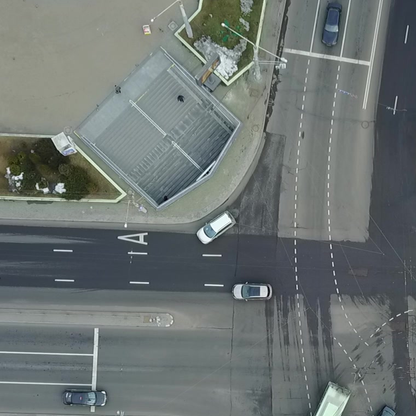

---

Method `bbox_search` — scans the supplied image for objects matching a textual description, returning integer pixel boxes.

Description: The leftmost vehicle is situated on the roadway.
[63,387,109,408]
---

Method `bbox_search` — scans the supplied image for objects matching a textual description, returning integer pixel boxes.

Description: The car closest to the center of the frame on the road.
[197,211,235,244]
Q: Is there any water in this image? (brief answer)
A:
No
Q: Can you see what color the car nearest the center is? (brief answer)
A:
white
